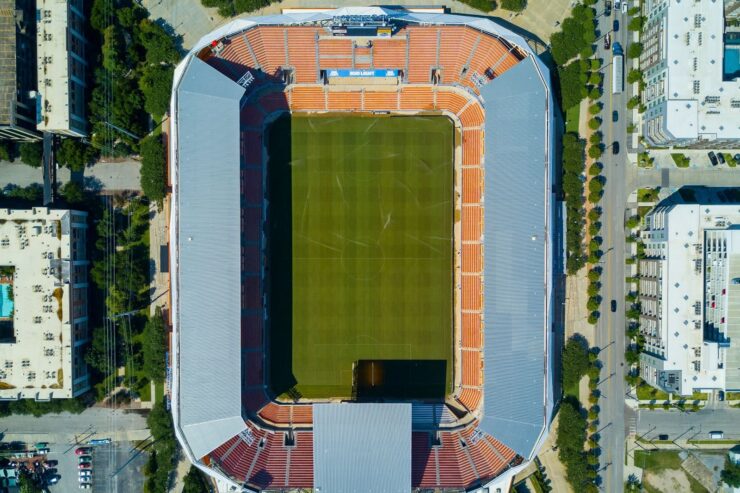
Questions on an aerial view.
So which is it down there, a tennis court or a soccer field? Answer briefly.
soccer field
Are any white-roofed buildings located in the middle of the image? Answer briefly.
No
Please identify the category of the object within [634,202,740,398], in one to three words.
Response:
building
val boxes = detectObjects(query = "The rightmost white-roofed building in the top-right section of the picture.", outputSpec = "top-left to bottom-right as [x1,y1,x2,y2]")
[638,0,740,151]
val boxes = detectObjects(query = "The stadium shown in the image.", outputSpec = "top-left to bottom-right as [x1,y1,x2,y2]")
[170,7,554,493]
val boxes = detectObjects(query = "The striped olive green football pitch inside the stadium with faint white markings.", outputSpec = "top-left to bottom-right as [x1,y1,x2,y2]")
[269,116,453,400]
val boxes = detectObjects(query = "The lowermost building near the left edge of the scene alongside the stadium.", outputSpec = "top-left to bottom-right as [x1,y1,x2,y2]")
[0,207,94,400]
